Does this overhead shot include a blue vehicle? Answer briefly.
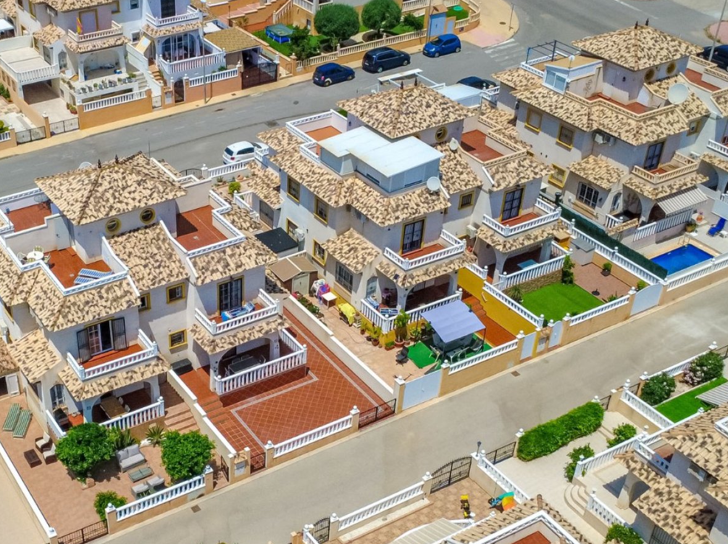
Yes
